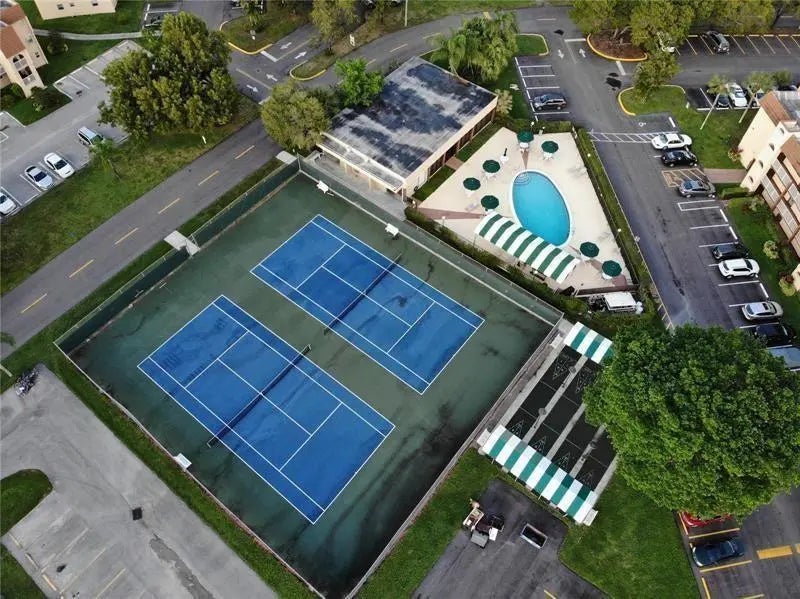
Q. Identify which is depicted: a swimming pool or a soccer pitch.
swimming pool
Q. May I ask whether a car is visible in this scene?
Yes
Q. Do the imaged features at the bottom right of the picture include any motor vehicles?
Yes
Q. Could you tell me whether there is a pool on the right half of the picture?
Yes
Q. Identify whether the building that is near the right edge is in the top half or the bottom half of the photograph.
top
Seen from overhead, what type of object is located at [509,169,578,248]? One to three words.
swimming pool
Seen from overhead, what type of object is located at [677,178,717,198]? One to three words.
car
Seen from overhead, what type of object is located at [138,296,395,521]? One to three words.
tennis court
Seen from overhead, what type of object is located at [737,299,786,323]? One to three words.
car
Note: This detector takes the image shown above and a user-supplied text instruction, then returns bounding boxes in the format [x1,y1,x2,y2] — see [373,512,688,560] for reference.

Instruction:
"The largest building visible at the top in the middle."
[312,60,499,207]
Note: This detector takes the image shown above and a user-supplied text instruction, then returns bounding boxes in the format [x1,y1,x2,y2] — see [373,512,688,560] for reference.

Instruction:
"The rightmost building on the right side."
[734,86,800,249]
